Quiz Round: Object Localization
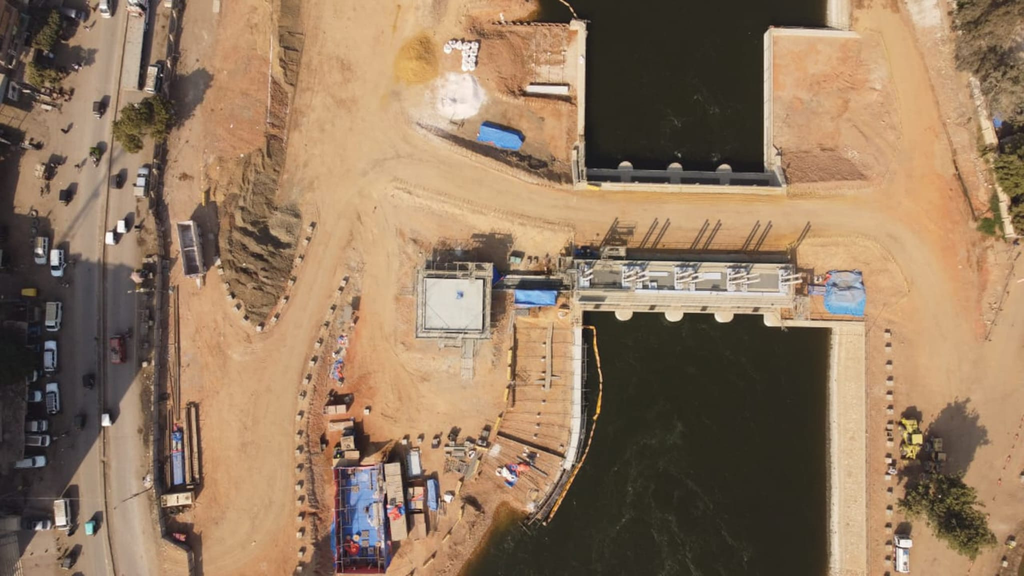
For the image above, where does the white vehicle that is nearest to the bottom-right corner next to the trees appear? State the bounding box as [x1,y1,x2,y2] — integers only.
[888,527,914,576]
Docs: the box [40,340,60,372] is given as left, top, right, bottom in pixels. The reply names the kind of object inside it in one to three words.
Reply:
car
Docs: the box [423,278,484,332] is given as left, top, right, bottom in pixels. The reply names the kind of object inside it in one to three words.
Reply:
building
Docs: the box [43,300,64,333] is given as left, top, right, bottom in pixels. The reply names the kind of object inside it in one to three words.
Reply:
vehicle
